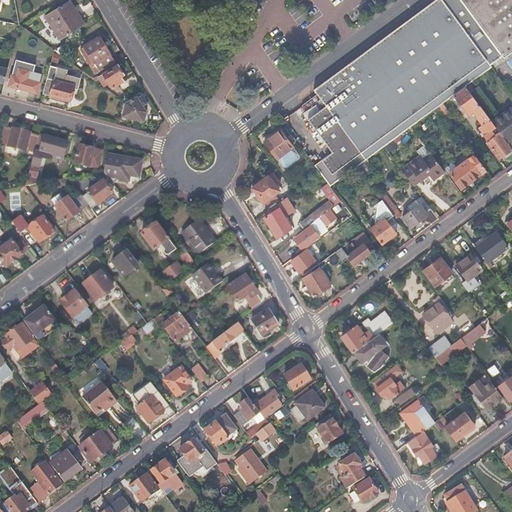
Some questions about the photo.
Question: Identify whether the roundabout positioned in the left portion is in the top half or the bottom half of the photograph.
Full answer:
You can find the roundabout positioned in the left portion in the top half.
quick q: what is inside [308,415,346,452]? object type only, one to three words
house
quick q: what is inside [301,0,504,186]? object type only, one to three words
warehouse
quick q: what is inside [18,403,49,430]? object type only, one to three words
shed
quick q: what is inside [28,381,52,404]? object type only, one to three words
house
